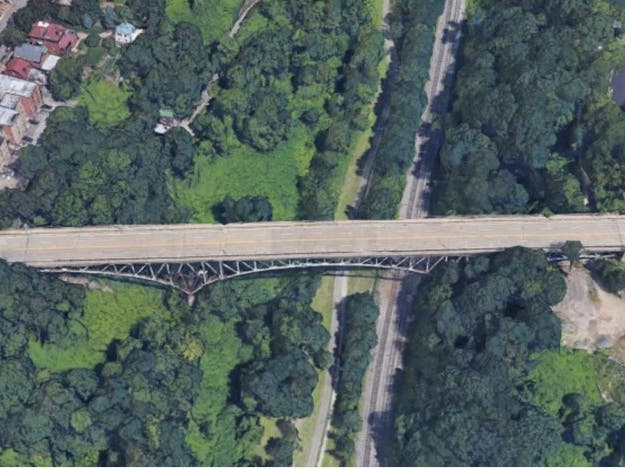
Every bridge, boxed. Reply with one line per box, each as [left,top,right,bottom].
[23,212,625,306]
